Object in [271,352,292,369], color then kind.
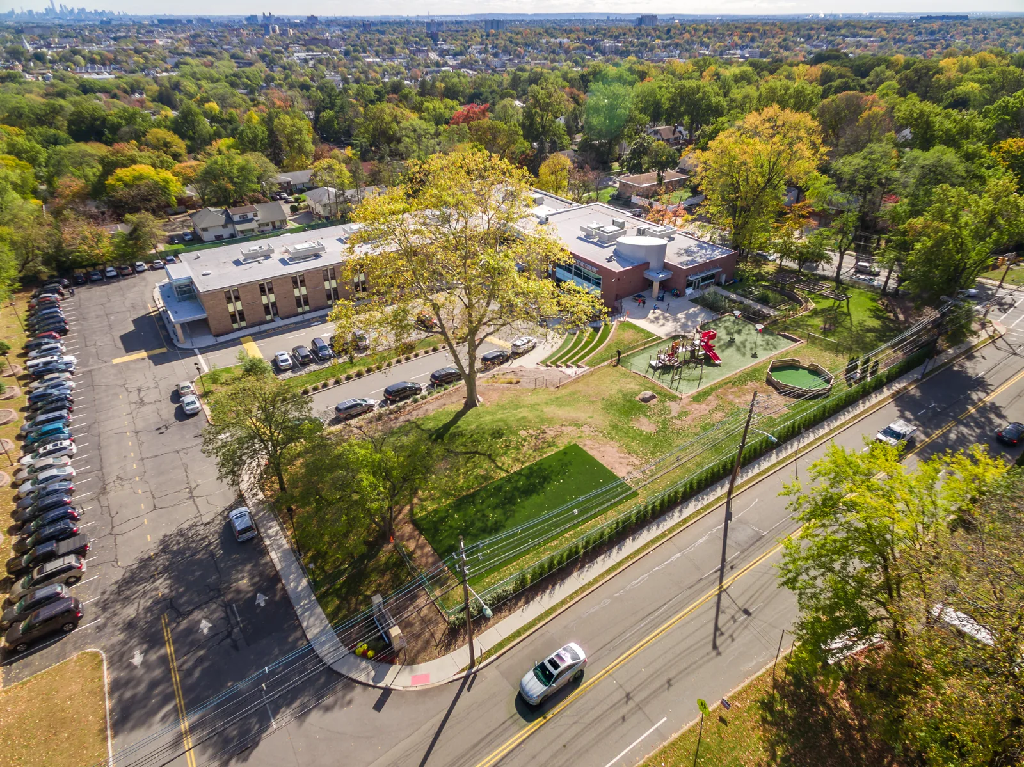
gray car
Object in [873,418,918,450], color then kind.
white vehicle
